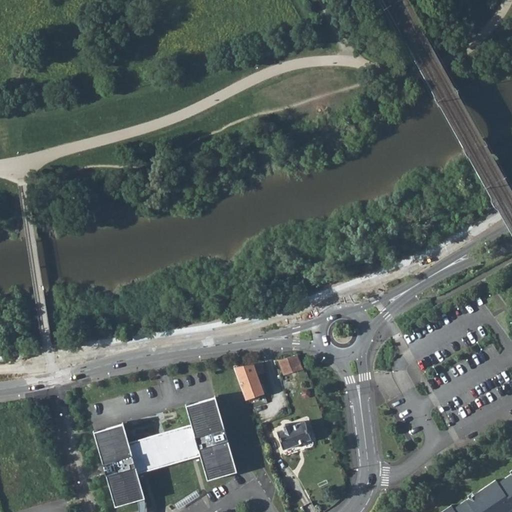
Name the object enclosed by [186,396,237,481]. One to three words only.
building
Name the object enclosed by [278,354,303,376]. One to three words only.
house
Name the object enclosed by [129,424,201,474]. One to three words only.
building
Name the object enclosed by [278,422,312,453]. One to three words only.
house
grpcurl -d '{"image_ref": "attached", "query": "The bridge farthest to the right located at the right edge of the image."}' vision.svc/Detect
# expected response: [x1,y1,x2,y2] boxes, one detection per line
[389,0,512,236]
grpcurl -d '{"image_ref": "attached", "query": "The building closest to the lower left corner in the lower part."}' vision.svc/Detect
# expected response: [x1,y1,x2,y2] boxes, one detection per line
[94,422,145,508]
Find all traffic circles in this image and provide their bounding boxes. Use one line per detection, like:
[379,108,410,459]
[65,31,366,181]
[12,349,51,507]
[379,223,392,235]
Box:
[314,306,371,362]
